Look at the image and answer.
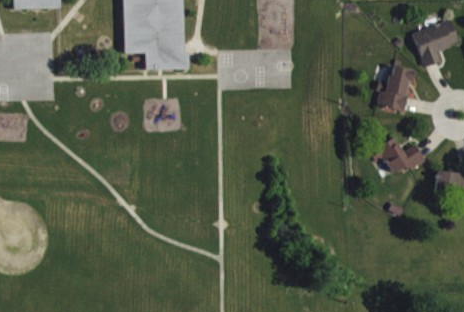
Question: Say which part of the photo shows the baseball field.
bottom left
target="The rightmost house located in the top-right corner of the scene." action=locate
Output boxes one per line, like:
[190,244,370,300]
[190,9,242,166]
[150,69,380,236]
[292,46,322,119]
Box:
[408,16,458,70]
